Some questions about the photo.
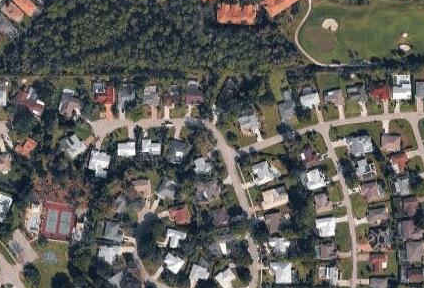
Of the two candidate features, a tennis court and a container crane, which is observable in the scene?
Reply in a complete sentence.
This aerial view contains a tennis court.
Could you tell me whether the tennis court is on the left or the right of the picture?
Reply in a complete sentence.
It is on the left.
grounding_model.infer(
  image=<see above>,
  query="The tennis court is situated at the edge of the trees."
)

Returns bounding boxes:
[40,200,76,241]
